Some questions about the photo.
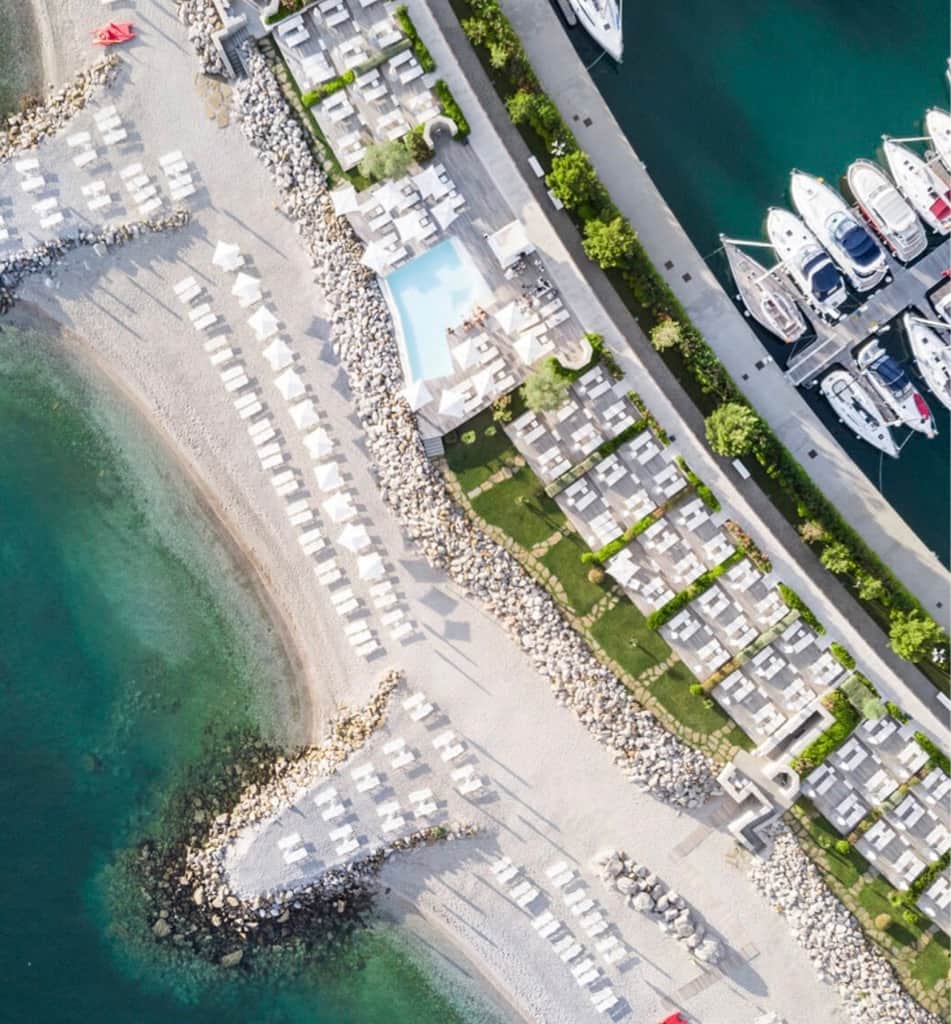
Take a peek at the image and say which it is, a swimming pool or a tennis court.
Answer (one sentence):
There is a swimming pool in the scene.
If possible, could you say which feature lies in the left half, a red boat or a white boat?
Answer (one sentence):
What appears in the left half is a red boat.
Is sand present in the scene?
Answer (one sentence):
Yes, there's sand in this view.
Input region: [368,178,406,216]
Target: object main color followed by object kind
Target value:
white umbrella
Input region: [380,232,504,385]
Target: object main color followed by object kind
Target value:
white swimming pool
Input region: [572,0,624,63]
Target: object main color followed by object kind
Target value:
white boat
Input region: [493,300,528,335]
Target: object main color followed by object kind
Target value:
white umbrella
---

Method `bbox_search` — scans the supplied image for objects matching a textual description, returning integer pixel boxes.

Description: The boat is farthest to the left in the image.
[92,18,135,44]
